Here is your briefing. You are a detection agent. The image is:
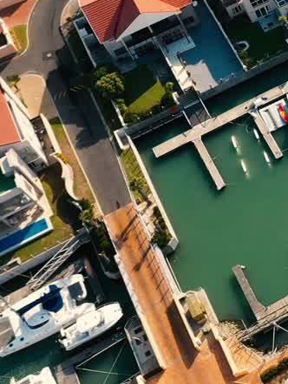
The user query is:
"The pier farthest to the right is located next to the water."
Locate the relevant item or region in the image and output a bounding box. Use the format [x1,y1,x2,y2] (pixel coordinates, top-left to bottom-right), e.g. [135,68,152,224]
[262,100,288,132]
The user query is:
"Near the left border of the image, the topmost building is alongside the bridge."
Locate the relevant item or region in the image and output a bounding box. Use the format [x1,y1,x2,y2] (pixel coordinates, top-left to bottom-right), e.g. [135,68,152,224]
[0,85,61,202]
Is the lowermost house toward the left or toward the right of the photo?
left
